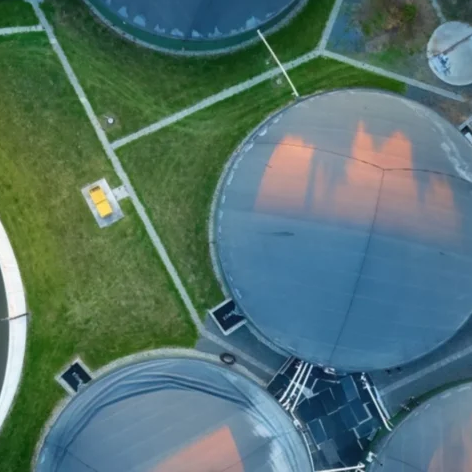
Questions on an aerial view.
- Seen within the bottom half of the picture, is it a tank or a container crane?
tank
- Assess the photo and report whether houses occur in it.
No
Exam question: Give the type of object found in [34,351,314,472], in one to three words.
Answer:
storage tank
